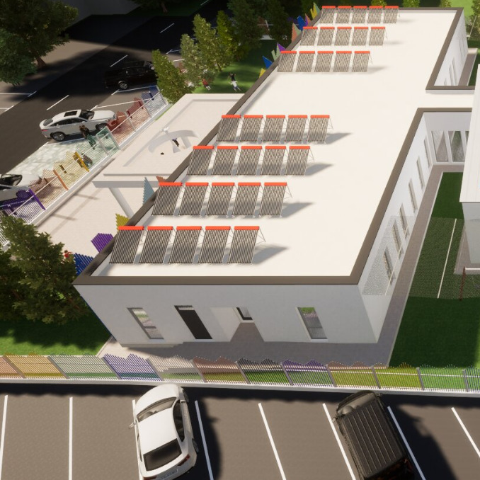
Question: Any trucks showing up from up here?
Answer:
No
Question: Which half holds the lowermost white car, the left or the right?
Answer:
left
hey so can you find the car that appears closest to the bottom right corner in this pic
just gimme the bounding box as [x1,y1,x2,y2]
[336,396,420,480]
